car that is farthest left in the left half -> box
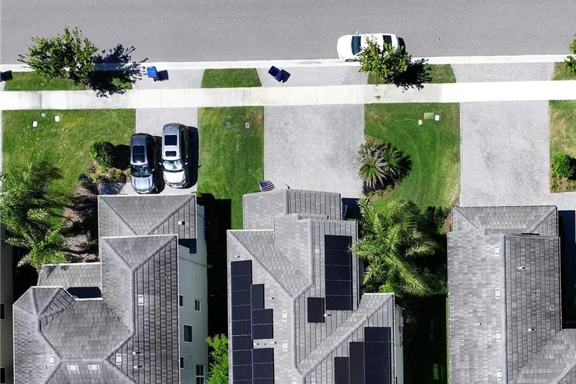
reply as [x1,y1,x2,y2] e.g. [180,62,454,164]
[124,134,159,193]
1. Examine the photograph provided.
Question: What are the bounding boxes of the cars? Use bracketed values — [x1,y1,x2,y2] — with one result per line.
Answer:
[155,124,191,191]
[124,134,159,193]
[339,31,401,63]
